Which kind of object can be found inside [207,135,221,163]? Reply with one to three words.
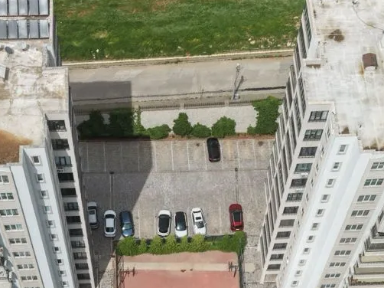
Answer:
car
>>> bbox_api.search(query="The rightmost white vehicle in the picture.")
[191,207,207,234]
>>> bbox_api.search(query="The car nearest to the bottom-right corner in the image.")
[230,203,244,232]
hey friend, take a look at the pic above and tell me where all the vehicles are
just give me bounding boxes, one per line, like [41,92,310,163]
[191,207,207,234]
[120,209,134,238]
[230,203,244,232]
[175,210,189,235]
[103,209,117,237]
[89,201,100,229]
[157,209,171,237]
[207,135,221,163]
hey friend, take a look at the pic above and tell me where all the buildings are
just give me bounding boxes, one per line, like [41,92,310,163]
[257,0,384,288]
[0,0,96,288]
